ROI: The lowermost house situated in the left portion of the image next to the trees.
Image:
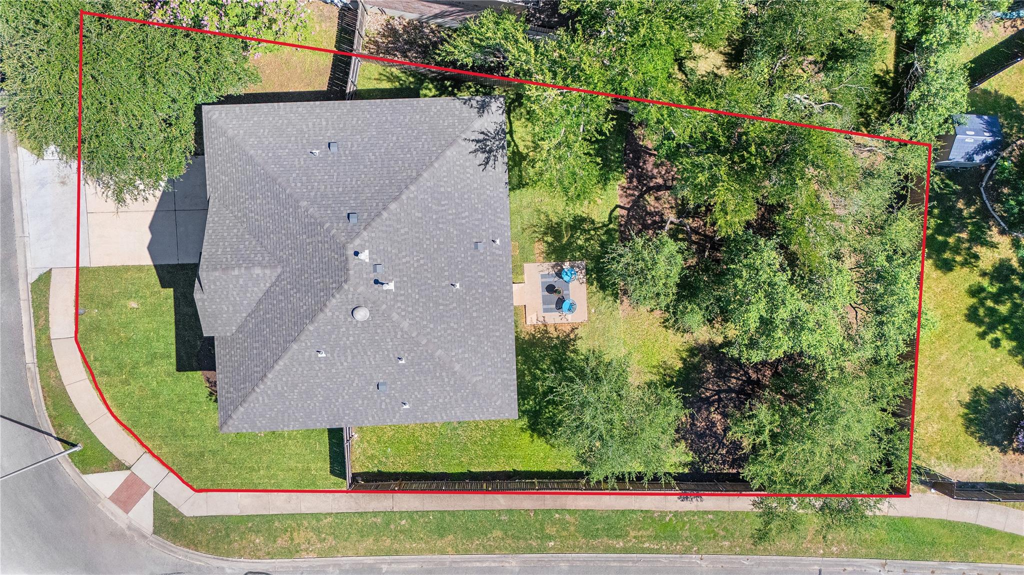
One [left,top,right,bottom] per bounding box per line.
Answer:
[194,91,521,434]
